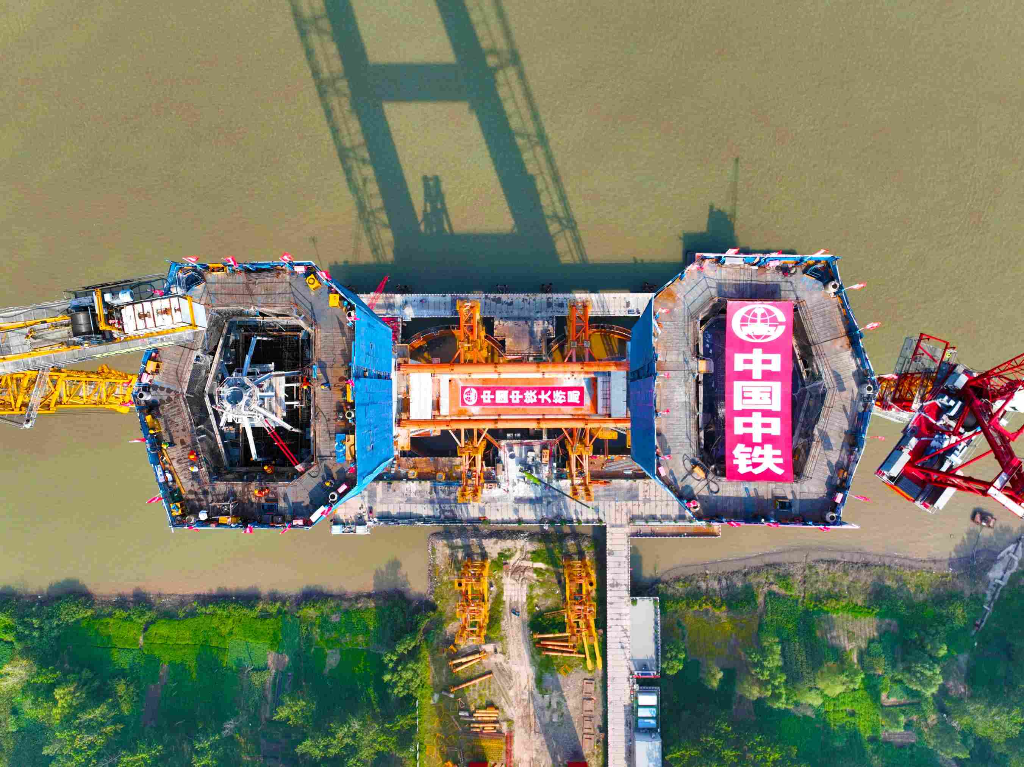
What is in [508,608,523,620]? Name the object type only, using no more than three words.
vehicle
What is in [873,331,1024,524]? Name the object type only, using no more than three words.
crane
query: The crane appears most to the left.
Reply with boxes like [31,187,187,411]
[0,268,211,434]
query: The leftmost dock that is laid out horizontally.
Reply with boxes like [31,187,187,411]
[629,525,721,538]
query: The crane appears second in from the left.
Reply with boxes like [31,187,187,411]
[367,274,398,343]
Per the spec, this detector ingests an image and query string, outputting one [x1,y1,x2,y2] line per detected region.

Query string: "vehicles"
[508,608,523,620]
[516,460,594,510]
